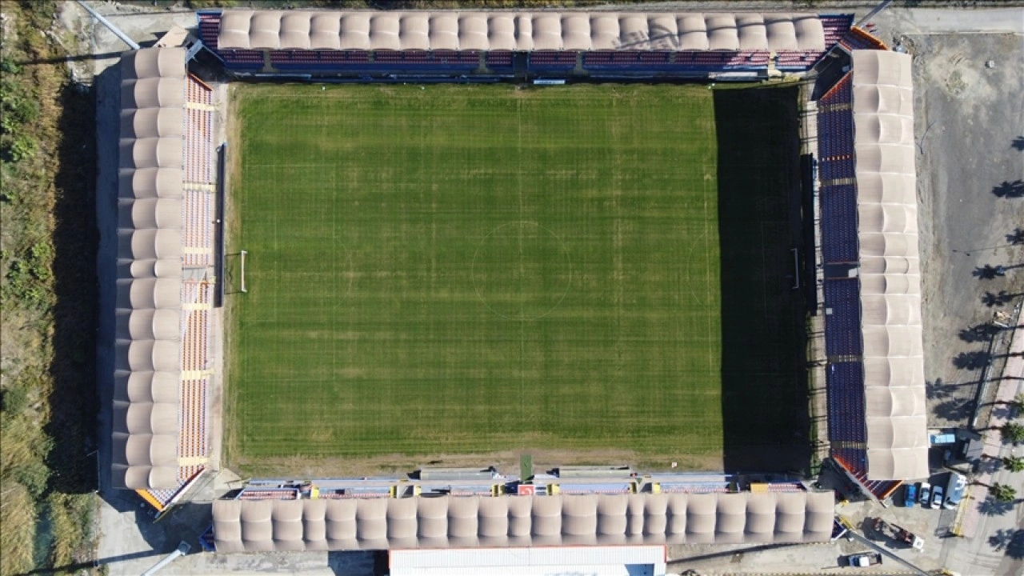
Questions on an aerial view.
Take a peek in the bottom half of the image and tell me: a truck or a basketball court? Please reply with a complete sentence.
What appears in the bottom half of the image is a truck.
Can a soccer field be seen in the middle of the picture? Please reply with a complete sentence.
Yes, I can see a soccer field in the middle of the picture.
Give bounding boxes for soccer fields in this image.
[225,81,813,479]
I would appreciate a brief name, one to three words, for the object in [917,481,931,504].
car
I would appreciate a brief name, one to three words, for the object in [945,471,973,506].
van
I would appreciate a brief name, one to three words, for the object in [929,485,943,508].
car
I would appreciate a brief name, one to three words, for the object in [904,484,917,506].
vehicle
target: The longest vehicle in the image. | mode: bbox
[877,518,930,555]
